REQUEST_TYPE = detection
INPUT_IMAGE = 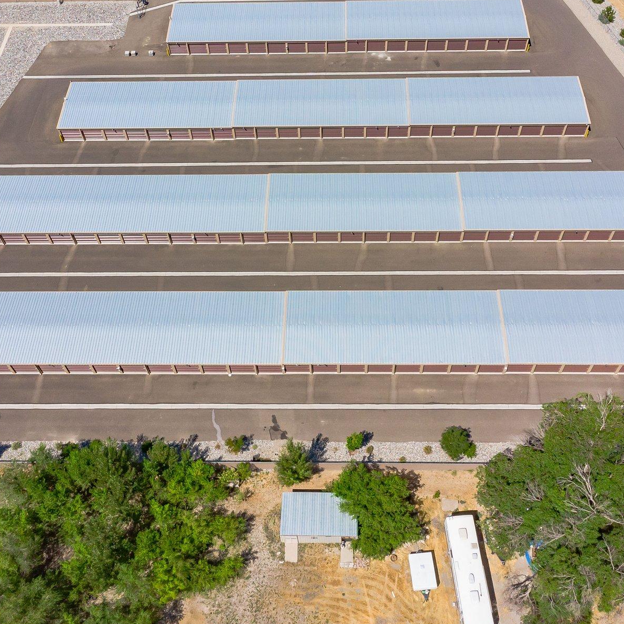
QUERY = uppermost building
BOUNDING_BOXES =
[166,0,531,56]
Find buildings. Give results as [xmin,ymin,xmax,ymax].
[0,289,624,376]
[280,492,358,545]
[0,171,624,246]
[56,76,593,142]
[166,0,531,56]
